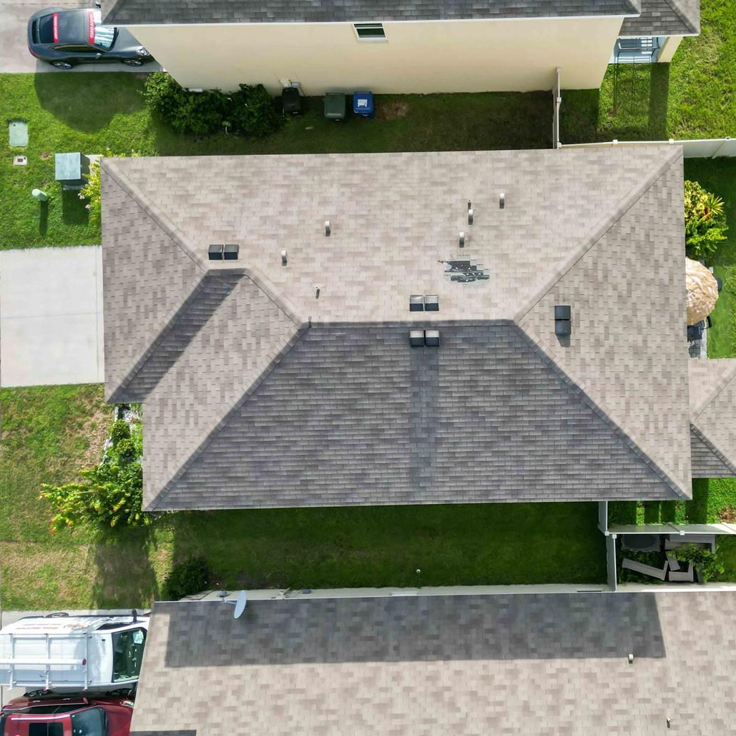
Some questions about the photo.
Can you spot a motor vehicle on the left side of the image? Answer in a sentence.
Yes, I can see a motor vehicle on the left side of the image.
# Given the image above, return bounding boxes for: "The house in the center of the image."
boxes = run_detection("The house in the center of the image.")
[101,142,736,514]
